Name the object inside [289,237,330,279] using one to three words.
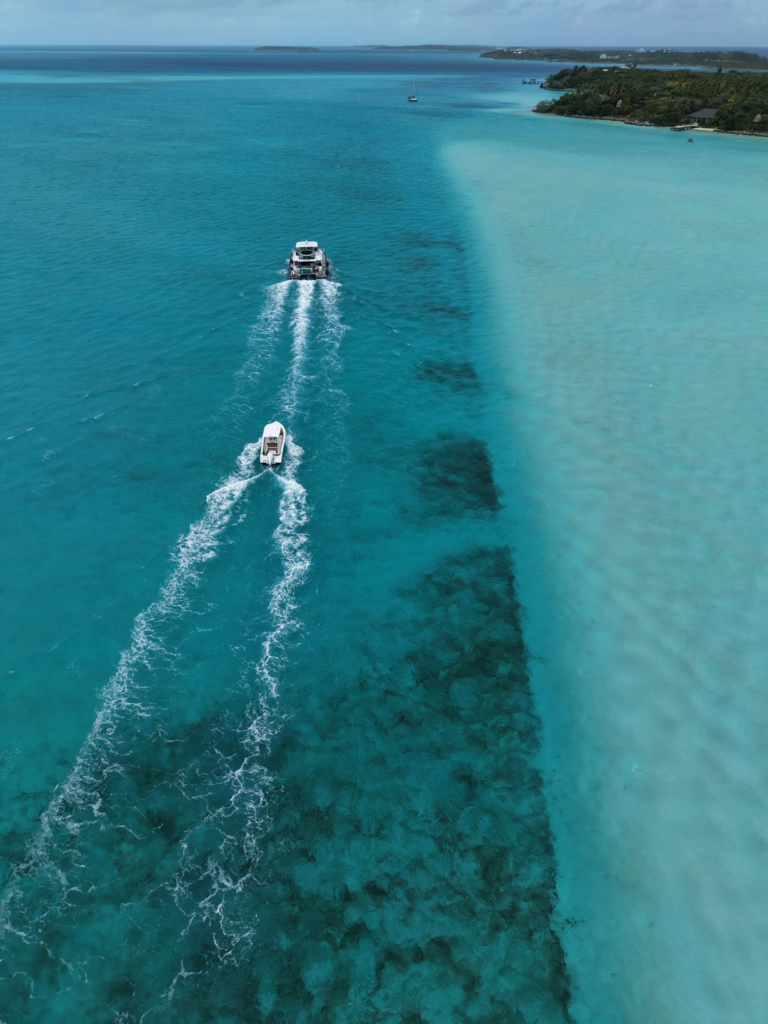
boat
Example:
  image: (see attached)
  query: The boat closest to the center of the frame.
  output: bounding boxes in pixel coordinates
[261,423,287,470]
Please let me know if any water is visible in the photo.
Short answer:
Yes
